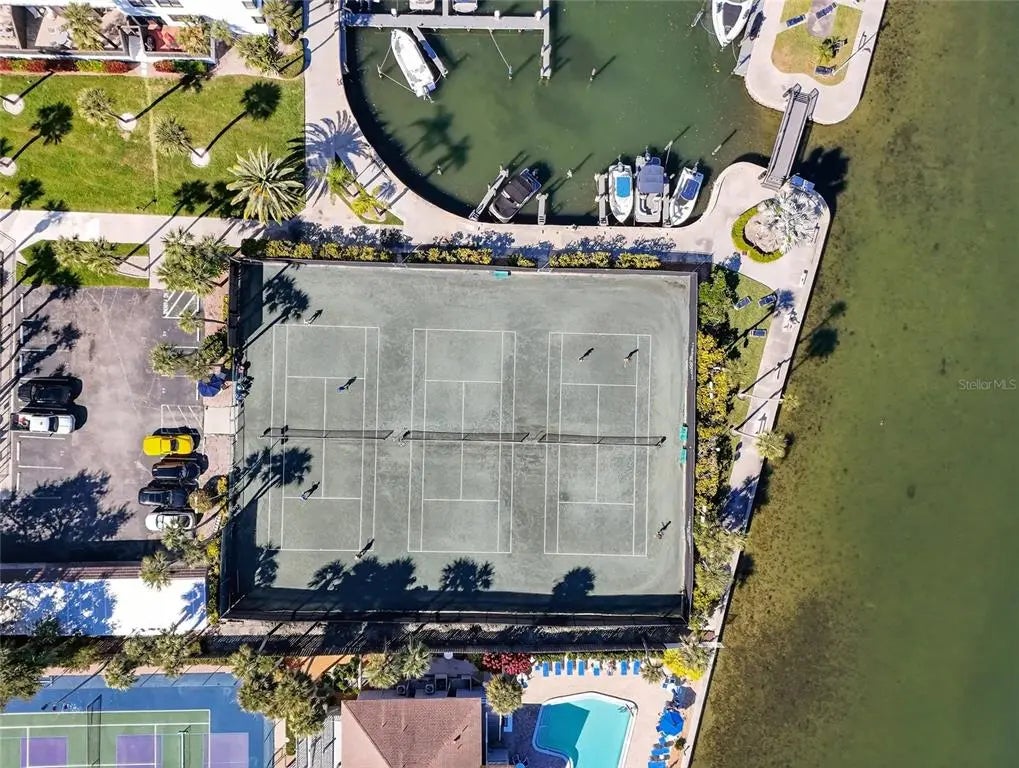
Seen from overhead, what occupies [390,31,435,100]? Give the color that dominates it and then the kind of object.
white boat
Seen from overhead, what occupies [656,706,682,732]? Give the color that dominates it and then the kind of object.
blue umbrella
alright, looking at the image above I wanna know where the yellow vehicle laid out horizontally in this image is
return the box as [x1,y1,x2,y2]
[143,433,194,457]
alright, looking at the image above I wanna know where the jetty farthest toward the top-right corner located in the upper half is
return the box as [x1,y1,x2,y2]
[731,0,759,76]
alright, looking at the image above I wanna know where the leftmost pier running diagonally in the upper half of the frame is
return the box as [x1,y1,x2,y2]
[411,28,449,78]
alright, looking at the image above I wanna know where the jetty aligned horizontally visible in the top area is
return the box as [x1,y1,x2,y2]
[349,5,541,38]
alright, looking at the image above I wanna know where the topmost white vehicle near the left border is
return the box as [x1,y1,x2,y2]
[11,411,77,433]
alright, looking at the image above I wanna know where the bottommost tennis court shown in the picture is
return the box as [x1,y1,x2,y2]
[0,672,274,768]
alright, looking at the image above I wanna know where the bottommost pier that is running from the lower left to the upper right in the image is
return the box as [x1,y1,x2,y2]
[470,164,510,221]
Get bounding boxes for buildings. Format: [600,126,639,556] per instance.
[340,689,483,768]
[0,0,278,42]
[0,562,219,637]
